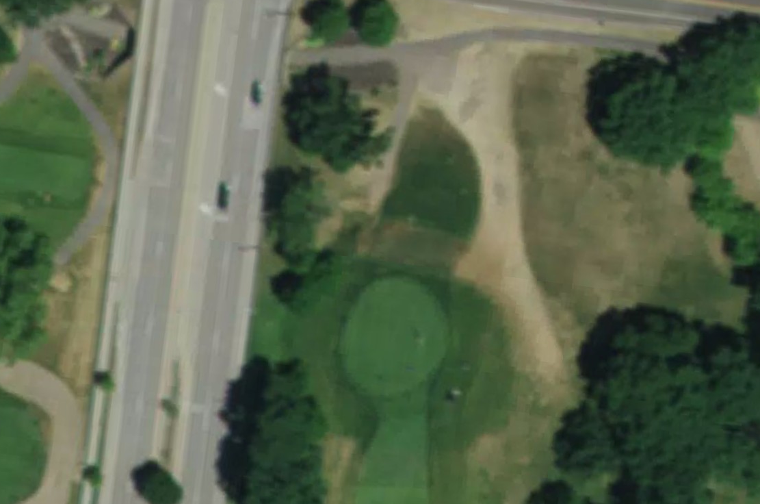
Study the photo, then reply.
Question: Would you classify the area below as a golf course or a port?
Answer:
golf course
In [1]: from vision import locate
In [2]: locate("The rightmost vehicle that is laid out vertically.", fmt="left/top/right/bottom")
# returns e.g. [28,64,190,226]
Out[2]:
[249,78,263,105]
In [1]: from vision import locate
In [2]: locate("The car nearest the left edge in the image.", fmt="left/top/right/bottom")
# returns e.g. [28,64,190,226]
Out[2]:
[216,181,230,210]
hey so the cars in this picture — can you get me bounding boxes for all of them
[249,78,263,105]
[216,181,230,210]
